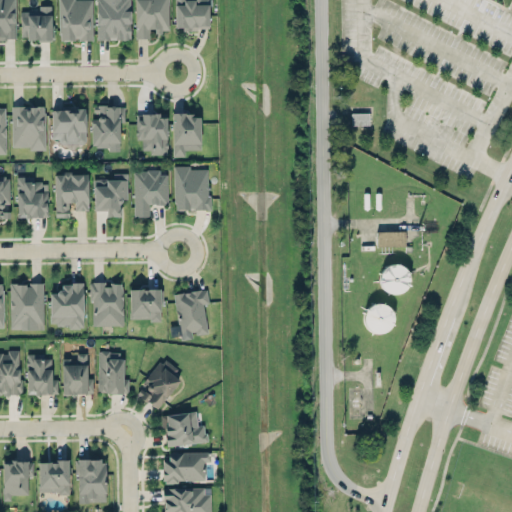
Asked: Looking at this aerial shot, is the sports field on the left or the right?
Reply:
right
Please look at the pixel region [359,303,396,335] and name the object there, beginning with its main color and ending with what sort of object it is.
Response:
white storage tank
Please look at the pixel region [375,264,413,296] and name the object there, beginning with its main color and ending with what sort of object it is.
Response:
white storage tank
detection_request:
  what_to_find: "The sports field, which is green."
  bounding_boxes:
[437,440,512,512]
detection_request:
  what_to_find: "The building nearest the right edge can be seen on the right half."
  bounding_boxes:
[378,232,408,248]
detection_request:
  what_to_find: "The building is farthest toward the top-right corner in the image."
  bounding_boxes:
[350,110,373,128]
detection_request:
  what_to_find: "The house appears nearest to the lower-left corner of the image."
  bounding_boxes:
[3,462,34,502]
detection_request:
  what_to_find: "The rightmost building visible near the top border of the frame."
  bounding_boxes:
[176,0,211,32]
